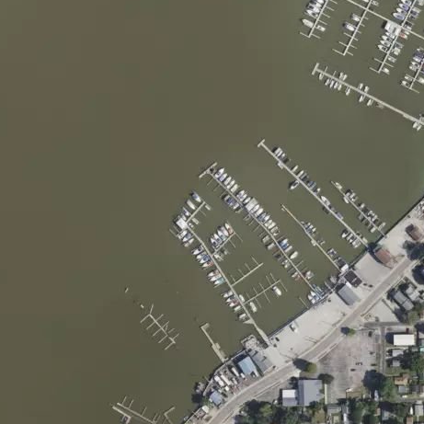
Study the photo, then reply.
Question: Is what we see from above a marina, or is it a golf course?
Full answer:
What you see here is a marina.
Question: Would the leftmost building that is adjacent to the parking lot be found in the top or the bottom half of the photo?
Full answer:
It is in the bottom half that the leftmost building that is adjacent to the parking lot appears.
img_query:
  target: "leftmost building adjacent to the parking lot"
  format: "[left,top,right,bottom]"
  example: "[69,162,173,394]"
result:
[299,380,323,406]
